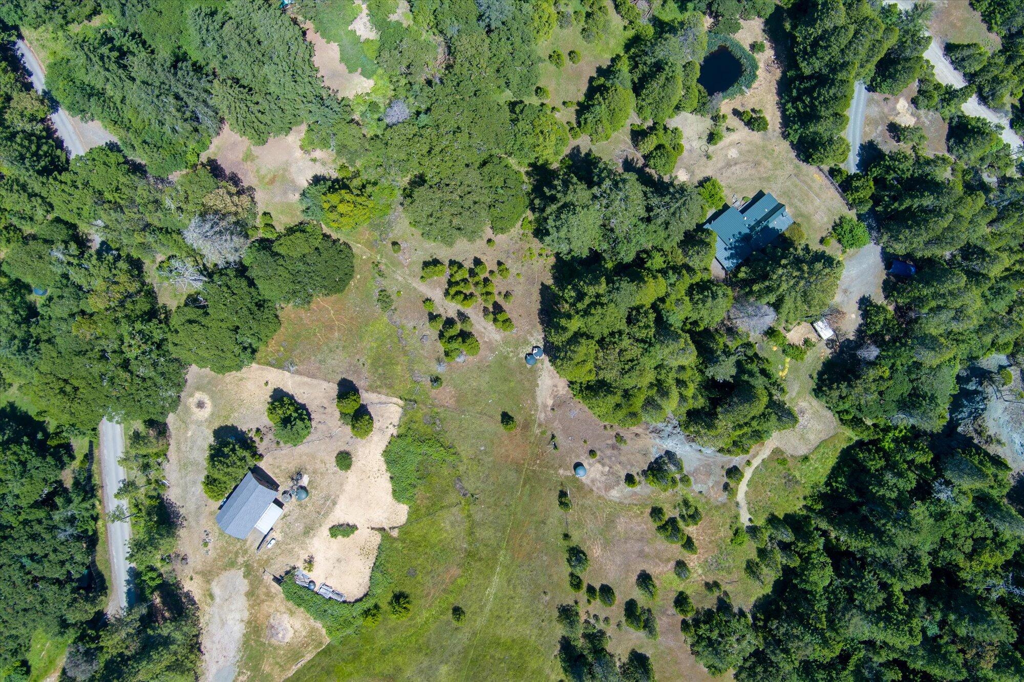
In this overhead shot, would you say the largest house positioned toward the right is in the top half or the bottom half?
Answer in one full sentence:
Seen from above, the largest house positioned toward the right lies in the top half of the view.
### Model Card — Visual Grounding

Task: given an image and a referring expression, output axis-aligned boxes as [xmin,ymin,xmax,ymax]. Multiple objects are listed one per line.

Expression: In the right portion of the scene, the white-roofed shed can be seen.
[809,318,834,339]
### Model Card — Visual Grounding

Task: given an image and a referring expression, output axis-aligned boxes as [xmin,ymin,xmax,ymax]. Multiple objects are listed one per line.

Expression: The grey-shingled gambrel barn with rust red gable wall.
[216,471,286,539]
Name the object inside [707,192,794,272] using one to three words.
house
